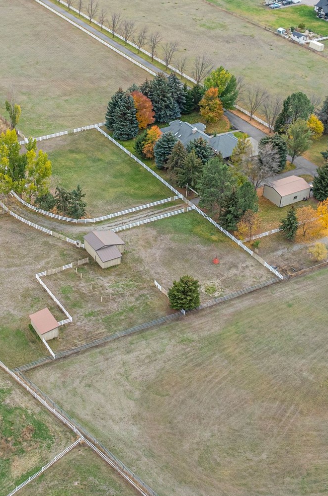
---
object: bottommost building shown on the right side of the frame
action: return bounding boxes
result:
[261,176,313,207]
